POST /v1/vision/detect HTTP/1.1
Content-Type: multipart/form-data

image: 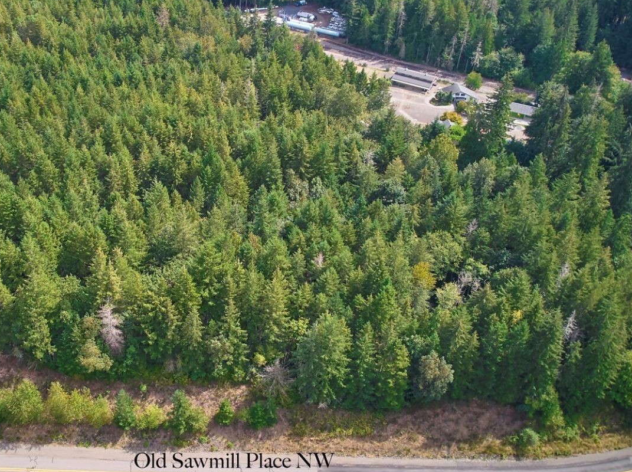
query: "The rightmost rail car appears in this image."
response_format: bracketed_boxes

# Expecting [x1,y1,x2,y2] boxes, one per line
[315,25,344,41]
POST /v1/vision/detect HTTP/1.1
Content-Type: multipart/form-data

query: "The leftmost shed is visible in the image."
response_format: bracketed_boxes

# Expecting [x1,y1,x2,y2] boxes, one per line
[387,63,442,99]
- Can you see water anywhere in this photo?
No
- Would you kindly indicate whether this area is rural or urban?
rural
